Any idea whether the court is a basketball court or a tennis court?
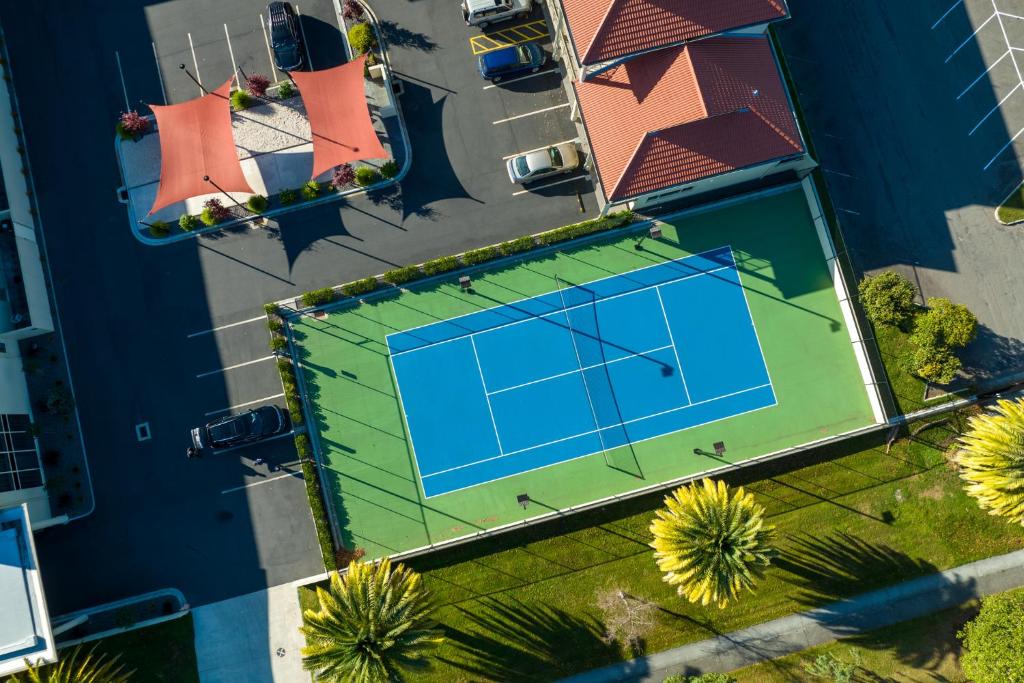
tennis court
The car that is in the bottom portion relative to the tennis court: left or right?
left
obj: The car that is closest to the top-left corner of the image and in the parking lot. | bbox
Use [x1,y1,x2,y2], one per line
[262,0,306,76]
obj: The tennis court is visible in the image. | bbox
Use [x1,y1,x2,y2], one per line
[295,183,878,564]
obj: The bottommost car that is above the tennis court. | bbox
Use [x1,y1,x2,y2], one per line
[506,142,580,184]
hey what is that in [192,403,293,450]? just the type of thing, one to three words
car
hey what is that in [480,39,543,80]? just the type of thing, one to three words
car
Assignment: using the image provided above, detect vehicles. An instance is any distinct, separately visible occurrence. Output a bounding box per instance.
[462,0,537,27]
[262,0,306,76]
[480,39,543,80]
[192,403,293,450]
[506,142,580,184]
